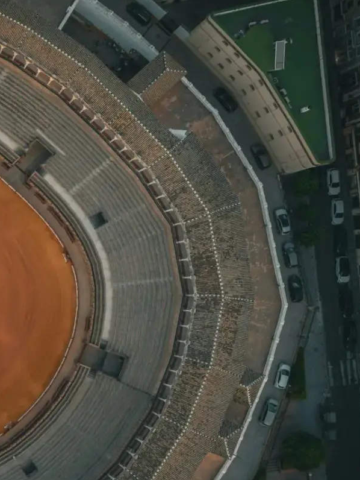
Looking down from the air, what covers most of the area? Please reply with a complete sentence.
For the most part, this view shows buildings.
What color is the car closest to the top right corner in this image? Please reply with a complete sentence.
In this view, the car closest to the top right corner is black.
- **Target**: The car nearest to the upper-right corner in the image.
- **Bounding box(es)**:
[213,86,237,113]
